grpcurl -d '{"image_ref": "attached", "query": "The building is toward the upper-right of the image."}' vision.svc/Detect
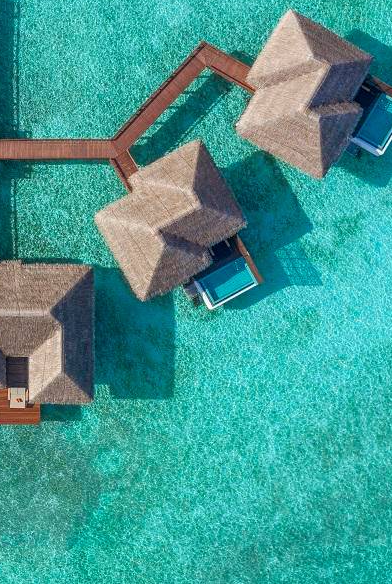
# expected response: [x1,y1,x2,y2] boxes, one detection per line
[237,9,373,178]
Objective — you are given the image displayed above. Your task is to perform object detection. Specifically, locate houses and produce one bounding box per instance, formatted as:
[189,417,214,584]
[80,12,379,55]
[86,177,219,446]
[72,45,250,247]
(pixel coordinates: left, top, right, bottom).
[237,9,373,178]
[0,262,96,405]
[94,140,247,301]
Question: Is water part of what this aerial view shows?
Yes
